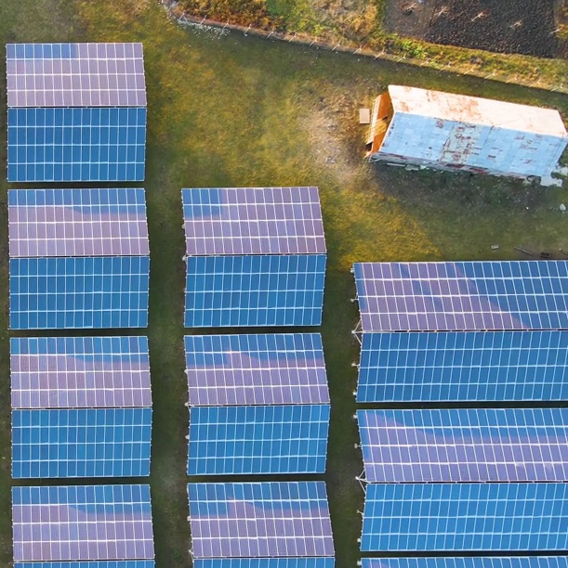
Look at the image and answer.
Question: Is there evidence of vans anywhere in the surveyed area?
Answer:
No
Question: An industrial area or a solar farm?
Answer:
solar farm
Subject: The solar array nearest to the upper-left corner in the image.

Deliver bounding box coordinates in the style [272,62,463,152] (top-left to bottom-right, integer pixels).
[6,42,148,181]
